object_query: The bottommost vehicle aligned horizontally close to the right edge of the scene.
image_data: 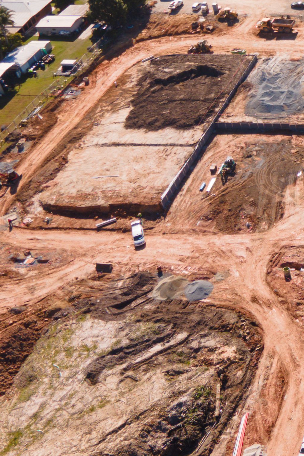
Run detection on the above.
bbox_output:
[256,18,295,33]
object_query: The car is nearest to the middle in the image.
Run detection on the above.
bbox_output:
[130,222,146,244]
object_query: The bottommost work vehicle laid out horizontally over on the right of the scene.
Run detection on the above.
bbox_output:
[185,40,213,53]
